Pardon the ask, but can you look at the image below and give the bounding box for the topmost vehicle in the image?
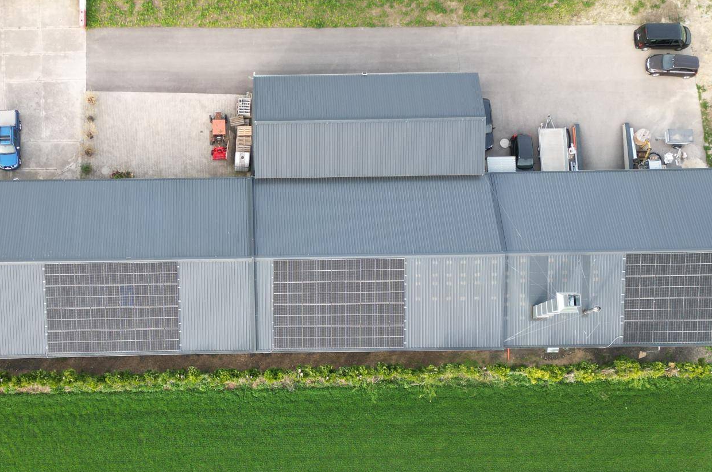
[632,23,690,53]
